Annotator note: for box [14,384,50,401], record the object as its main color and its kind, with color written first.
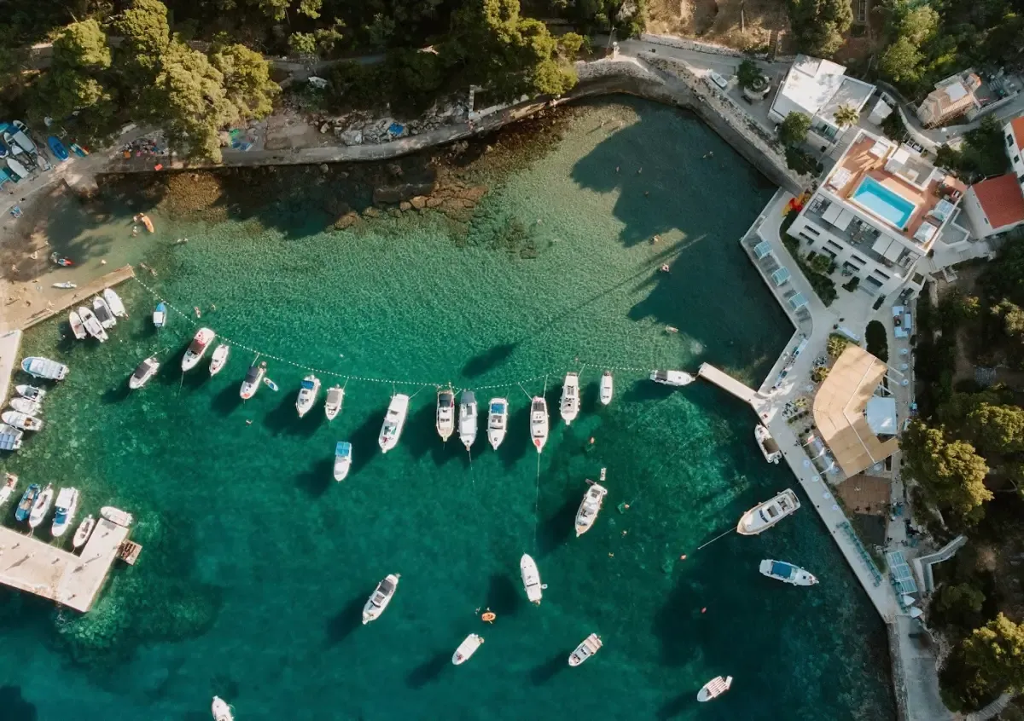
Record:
white boat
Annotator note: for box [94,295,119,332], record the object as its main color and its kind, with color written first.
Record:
white boat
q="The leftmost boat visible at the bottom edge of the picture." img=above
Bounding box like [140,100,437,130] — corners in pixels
[211,697,233,721]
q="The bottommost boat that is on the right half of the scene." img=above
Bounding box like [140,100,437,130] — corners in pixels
[698,674,726,701]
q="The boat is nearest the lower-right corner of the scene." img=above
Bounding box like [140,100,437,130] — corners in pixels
[758,558,821,587]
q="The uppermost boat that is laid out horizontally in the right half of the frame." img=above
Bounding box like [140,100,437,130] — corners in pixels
[641,369,699,386]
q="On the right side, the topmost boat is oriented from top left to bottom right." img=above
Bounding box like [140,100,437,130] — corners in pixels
[711,69,730,91]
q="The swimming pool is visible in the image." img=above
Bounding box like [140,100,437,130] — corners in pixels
[848,172,919,231]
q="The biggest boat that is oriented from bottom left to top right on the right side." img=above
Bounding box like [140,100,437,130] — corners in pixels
[698,484,802,550]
